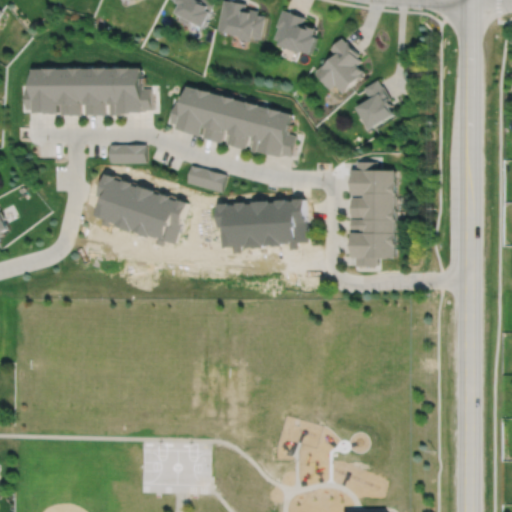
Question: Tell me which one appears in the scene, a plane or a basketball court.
basketball court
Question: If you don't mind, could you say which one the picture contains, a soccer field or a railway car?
soccer field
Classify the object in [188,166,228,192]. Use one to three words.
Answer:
building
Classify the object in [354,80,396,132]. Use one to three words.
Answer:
house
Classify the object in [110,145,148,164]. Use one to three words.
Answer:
building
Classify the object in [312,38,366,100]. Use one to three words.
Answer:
house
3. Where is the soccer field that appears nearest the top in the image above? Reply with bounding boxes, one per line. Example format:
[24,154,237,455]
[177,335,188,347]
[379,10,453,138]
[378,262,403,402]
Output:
[22,303,409,433]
